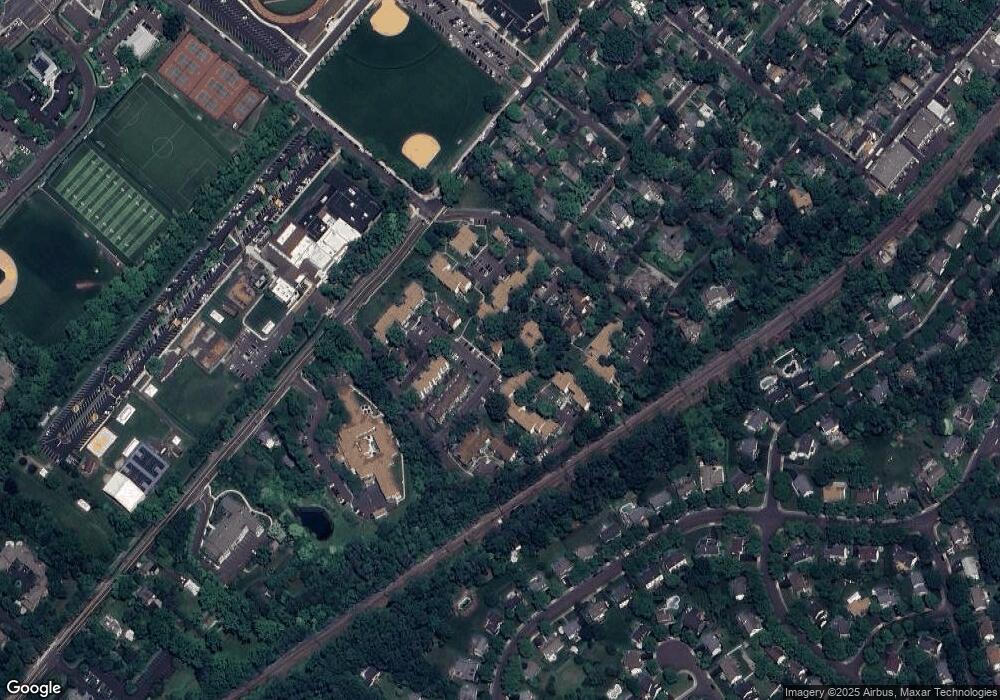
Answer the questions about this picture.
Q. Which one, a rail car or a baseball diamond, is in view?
baseball diamond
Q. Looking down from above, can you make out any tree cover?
Yes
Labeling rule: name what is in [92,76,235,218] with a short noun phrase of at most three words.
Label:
soccer field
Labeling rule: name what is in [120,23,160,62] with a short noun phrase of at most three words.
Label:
building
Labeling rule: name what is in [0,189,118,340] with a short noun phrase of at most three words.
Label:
baseball field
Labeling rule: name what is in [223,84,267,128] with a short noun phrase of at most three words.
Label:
tennis court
